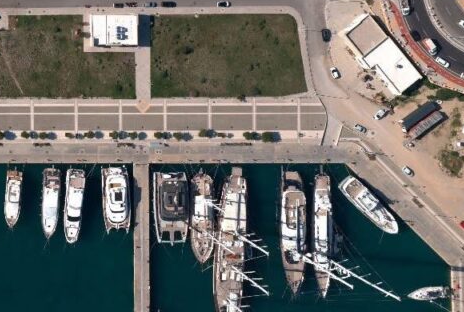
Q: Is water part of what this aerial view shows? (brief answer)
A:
Yes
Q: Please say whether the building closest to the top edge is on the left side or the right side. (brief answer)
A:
left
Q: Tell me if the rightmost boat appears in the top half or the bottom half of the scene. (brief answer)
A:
bottom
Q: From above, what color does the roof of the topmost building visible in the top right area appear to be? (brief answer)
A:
white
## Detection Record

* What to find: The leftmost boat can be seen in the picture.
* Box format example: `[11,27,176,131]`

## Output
[4,159,23,228]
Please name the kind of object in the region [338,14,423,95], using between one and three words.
building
